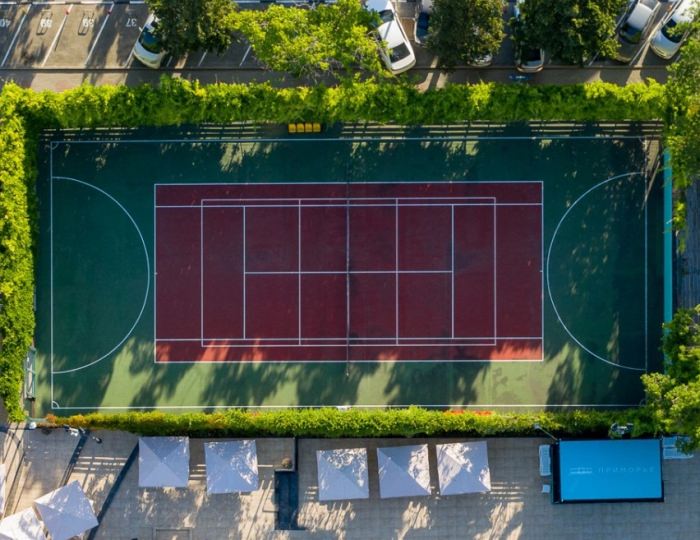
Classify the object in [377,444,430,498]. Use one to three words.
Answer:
umbrella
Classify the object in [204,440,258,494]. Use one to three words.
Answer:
umbrella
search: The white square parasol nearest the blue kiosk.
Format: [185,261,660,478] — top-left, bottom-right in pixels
[436,440,490,494]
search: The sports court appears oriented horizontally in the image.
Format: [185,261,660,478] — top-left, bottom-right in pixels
[27,123,662,413]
